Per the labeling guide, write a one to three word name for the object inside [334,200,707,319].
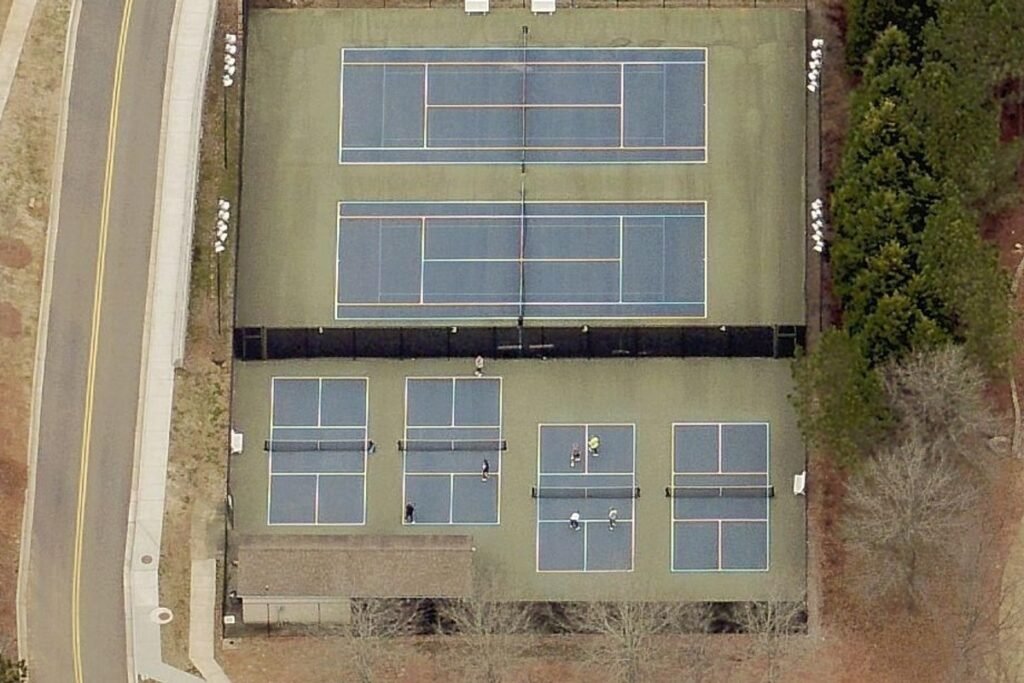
tennis court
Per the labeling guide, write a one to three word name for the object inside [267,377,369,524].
sports court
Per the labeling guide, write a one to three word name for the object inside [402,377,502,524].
sports court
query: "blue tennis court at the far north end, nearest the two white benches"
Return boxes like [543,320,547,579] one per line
[338,47,707,164]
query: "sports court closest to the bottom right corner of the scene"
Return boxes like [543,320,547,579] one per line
[671,423,769,571]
